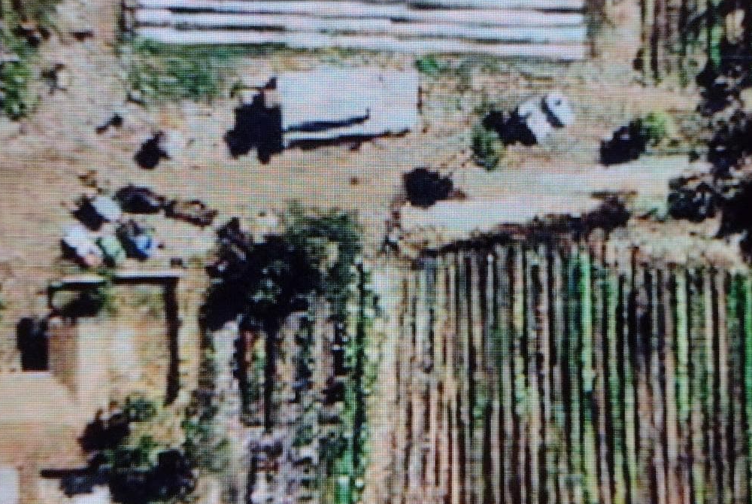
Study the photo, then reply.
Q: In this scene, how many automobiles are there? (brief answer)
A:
7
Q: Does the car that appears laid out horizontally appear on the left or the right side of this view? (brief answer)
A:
left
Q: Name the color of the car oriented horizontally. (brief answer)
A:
black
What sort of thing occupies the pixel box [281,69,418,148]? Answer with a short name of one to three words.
shed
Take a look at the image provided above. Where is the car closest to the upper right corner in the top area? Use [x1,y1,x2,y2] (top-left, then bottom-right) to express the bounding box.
[543,88,572,126]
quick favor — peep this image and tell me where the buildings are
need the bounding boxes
[281,69,418,148]
[0,320,109,504]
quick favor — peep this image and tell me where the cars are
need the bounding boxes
[96,233,126,269]
[86,190,123,226]
[59,223,96,261]
[518,94,555,142]
[543,88,572,126]
[121,223,156,261]
[115,187,160,211]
